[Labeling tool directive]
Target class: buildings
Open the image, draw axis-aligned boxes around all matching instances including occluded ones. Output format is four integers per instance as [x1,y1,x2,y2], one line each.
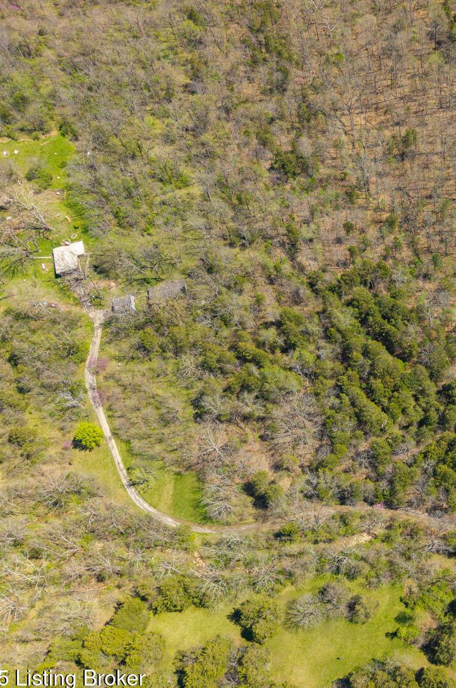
[110,295,135,314]
[52,240,87,277]
[146,281,185,304]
